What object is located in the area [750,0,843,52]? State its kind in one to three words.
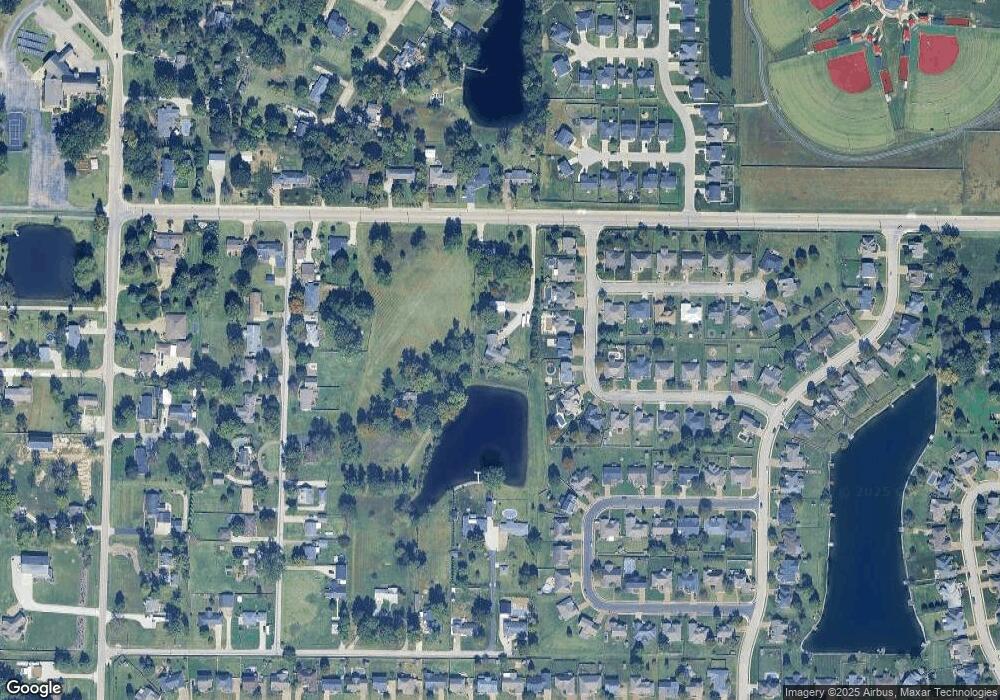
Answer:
baseball field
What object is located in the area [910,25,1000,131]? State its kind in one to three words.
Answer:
baseball field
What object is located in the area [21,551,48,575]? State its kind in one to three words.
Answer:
barn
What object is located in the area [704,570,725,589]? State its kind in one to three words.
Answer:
house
